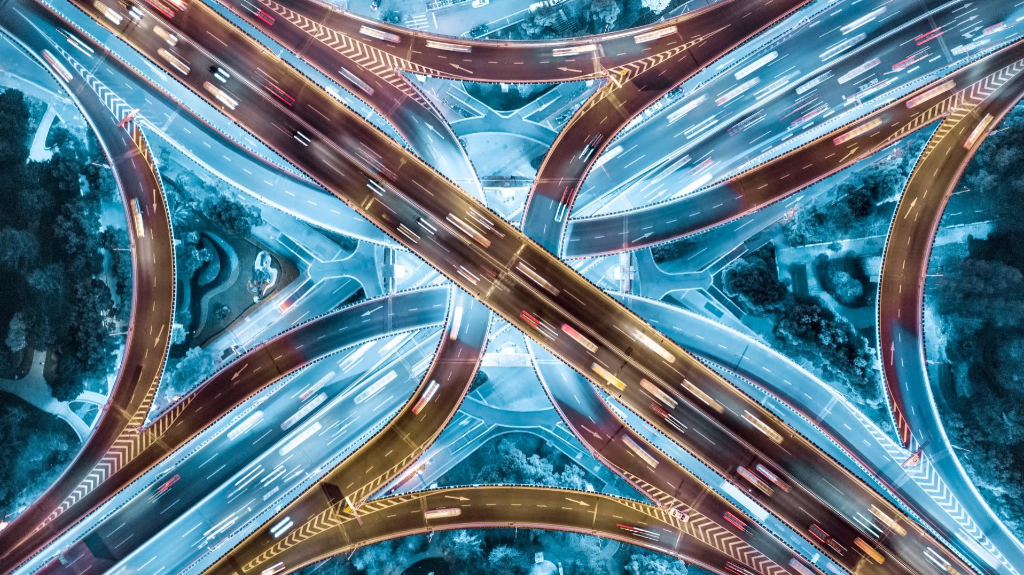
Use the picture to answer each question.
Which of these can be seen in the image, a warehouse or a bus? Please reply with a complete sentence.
Looking from above, you can make out a bus.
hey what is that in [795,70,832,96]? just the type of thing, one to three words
bus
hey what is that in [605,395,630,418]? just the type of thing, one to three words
vehicle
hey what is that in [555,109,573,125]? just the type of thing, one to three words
car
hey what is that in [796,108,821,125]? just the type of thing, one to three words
car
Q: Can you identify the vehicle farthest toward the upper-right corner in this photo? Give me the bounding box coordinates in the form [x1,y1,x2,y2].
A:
[979,20,1005,38]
